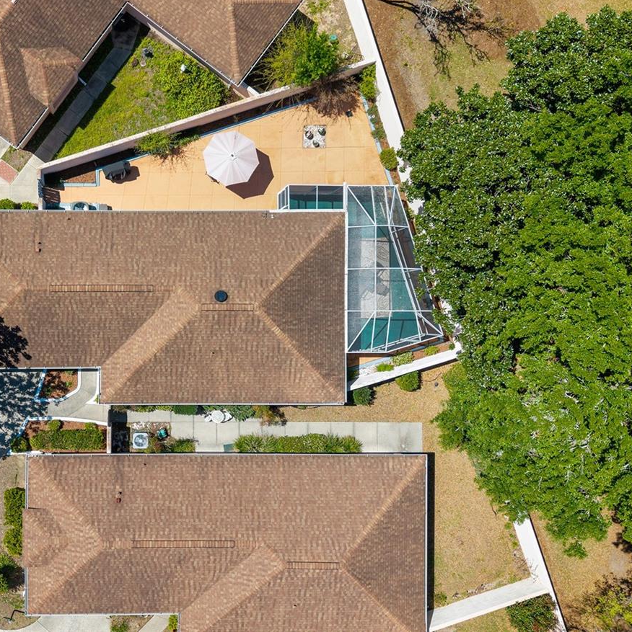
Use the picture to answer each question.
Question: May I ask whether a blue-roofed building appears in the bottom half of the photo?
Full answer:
No, there's no blue-roofed building to be seen in the bottom half of the photo.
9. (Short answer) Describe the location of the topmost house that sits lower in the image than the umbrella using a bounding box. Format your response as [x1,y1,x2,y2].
[0,207,349,407]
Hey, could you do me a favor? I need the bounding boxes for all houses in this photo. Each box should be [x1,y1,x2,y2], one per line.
[0,207,349,407]
[3,451,431,632]
[0,0,304,148]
